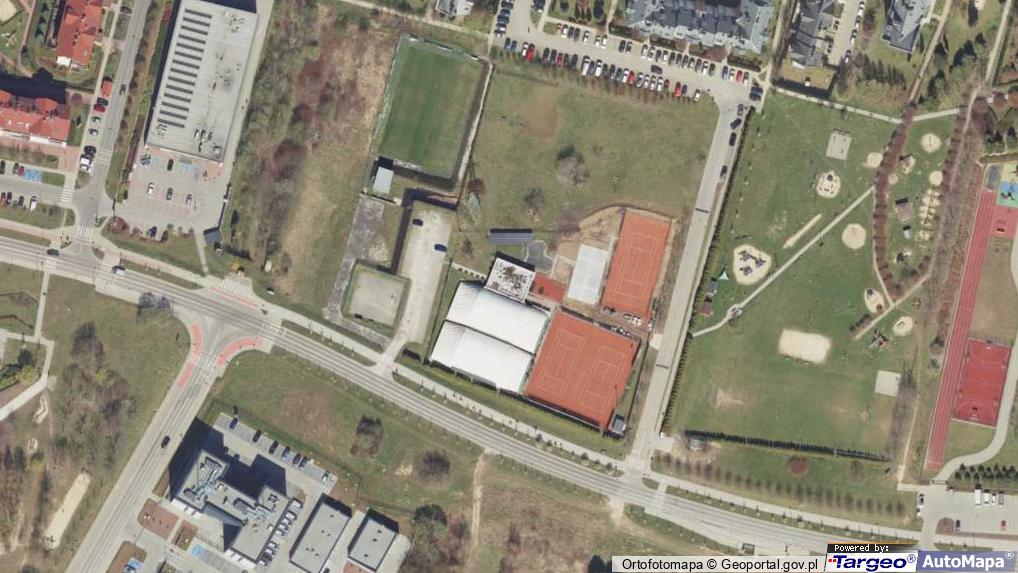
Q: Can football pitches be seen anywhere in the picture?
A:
Yes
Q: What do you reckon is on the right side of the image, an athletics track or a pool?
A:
athletics track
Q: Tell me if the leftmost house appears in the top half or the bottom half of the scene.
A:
top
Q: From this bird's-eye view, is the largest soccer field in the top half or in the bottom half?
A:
top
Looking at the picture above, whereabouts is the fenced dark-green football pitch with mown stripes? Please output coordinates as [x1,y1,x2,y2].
[374,35,488,191]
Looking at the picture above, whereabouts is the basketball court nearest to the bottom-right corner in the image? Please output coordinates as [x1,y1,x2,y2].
[952,337,1013,428]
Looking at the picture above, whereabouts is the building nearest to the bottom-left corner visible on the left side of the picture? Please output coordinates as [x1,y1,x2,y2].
[172,450,290,568]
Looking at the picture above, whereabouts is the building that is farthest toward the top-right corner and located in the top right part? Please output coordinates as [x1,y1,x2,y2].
[879,0,933,52]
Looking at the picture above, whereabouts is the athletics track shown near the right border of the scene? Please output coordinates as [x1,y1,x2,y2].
[924,187,998,470]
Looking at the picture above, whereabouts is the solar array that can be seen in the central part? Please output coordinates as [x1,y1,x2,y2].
[490,231,534,245]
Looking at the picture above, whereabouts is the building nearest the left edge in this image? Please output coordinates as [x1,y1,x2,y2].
[0,93,70,147]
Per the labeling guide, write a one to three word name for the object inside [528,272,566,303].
sports court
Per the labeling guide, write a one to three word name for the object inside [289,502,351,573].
building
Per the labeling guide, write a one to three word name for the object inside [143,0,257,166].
warehouse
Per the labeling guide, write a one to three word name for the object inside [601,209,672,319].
tennis court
